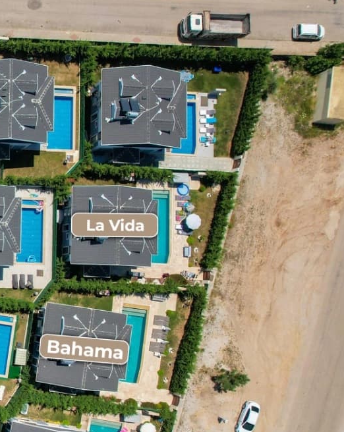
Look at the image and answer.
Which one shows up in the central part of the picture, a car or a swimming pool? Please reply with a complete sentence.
There is a swimming pool in the central part of the picture.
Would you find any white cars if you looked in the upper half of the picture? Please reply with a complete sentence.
Yes, you'll find a white car in the upper half of the picture.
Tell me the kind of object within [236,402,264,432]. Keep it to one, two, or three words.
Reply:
car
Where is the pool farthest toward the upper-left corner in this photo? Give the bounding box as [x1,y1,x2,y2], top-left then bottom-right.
[44,87,76,152]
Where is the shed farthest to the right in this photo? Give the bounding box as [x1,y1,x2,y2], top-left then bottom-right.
[312,67,344,123]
